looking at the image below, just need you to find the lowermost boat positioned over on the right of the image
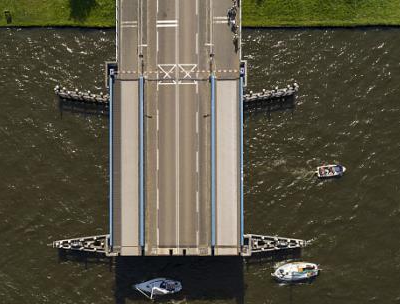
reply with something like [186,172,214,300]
[271,262,320,281]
